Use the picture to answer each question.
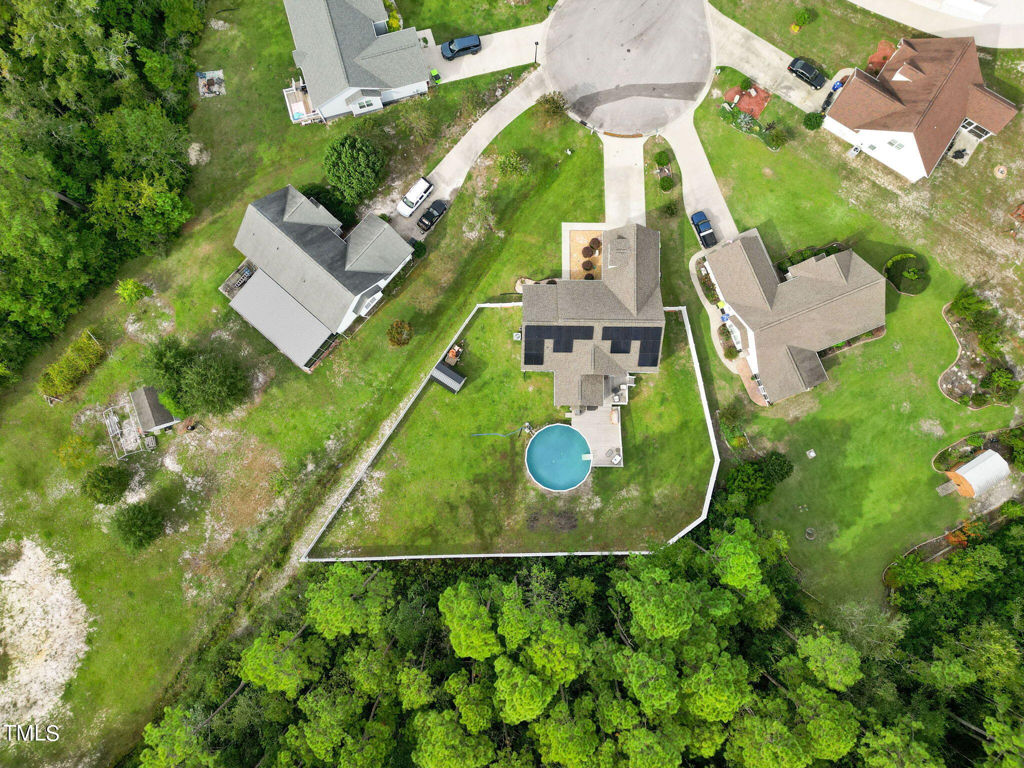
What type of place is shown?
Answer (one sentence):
What you see here is a residential area.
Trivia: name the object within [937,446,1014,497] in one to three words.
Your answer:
shed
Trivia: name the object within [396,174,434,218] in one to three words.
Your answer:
car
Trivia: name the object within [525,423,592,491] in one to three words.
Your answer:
swimming pool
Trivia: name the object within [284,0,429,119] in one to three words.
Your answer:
house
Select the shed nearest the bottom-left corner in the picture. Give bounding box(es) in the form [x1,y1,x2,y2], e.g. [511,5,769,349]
[128,382,182,435]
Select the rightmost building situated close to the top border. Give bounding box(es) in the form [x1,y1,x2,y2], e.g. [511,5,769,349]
[824,35,1020,181]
